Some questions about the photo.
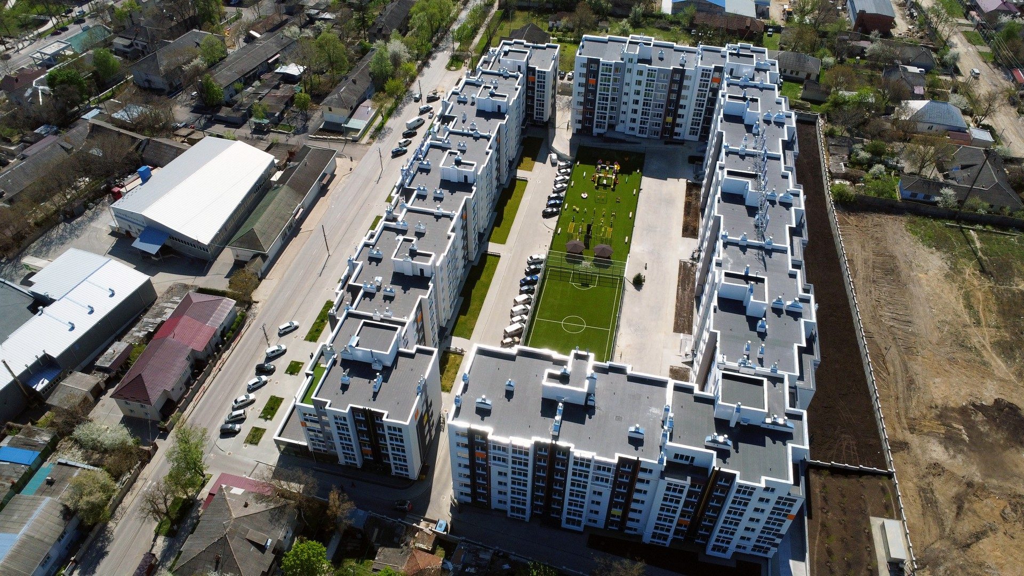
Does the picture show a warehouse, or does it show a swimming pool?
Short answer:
warehouse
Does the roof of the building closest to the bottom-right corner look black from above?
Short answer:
No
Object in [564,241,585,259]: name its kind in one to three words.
gazebo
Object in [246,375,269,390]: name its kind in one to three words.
car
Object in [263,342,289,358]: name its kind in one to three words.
vehicle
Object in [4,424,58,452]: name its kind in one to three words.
shed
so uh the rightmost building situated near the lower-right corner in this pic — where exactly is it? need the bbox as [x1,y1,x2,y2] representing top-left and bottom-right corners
[874,519,906,569]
